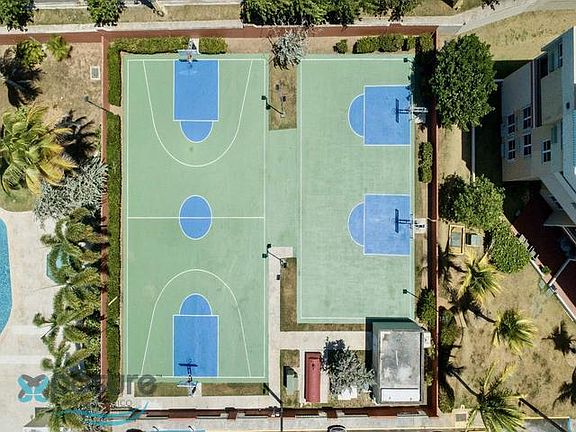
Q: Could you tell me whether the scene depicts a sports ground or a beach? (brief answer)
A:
sports ground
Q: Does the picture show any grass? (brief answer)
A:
Yes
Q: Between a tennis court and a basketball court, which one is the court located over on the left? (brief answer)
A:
basketball court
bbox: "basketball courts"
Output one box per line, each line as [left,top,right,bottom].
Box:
[123,53,297,383]
[297,53,413,322]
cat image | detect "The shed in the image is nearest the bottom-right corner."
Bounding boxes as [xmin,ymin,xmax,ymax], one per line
[373,323,426,406]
